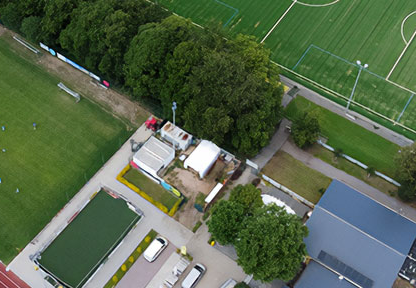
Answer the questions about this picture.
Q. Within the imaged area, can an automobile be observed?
Yes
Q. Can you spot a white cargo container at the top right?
No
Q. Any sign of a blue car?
No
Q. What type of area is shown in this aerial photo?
sports ground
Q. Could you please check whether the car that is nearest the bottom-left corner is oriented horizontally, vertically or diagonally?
diagonally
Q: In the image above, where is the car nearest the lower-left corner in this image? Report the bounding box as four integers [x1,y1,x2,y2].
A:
[144,237,167,261]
